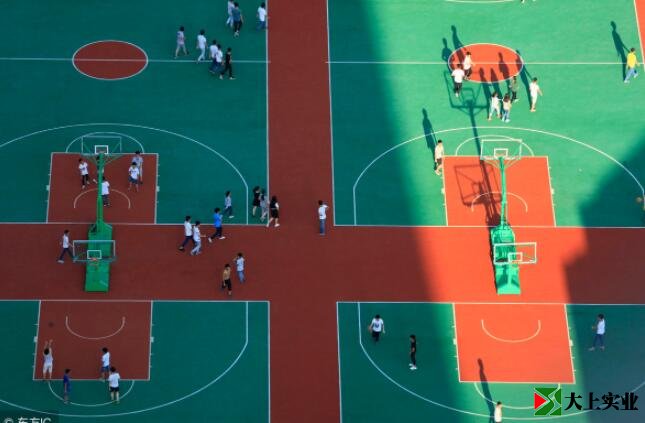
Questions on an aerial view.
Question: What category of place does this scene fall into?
sports ground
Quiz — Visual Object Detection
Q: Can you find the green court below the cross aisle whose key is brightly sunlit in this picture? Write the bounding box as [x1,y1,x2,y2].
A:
[337,302,645,423]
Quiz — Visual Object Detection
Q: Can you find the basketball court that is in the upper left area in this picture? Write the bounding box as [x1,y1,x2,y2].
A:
[0,0,270,225]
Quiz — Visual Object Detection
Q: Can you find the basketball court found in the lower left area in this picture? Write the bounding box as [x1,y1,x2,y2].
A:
[0,300,270,423]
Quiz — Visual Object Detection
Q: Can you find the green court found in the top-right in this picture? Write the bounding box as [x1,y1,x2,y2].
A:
[327,0,645,227]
